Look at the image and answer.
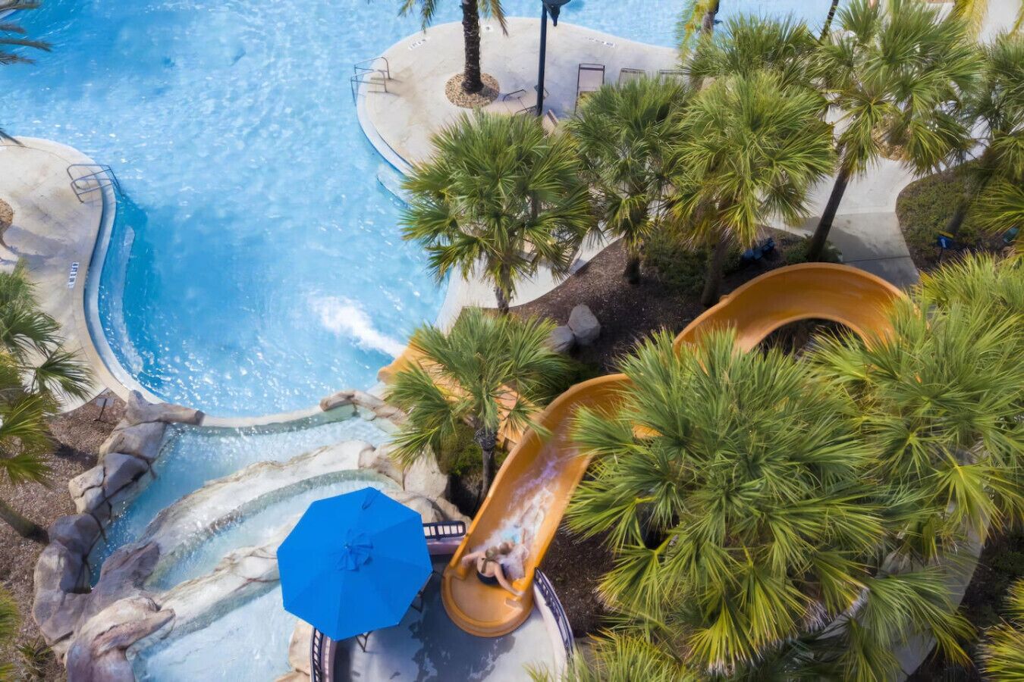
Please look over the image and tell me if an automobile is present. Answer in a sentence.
No, I can see no automobile in this picture.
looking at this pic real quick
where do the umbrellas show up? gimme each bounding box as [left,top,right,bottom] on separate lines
[276,487,434,643]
